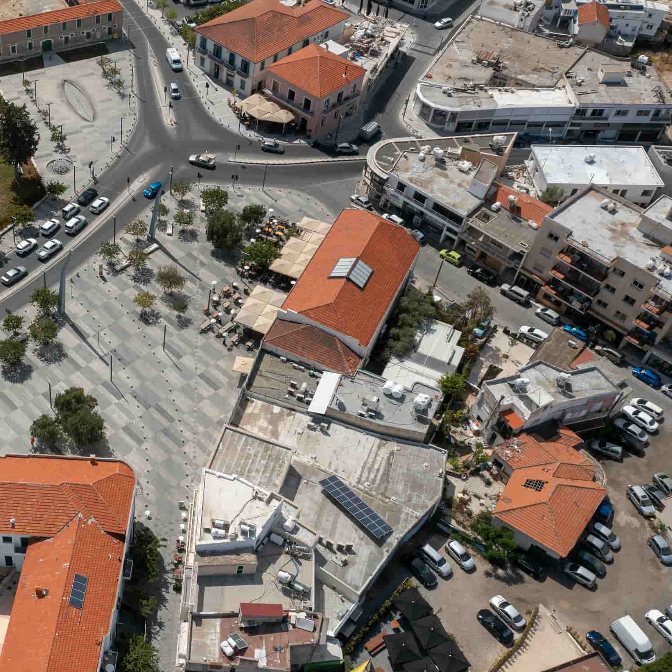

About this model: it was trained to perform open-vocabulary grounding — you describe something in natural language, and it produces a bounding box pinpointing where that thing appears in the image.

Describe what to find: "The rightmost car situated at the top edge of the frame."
[433,13,456,26]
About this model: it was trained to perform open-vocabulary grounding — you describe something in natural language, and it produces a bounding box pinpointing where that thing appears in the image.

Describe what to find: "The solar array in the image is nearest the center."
[317,476,393,542]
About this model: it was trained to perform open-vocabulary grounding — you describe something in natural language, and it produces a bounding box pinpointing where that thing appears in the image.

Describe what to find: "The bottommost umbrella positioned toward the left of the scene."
[233,356,253,380]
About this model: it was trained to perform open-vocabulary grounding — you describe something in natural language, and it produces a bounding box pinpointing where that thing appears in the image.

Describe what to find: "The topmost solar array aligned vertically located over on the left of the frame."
[68,573,88,610]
